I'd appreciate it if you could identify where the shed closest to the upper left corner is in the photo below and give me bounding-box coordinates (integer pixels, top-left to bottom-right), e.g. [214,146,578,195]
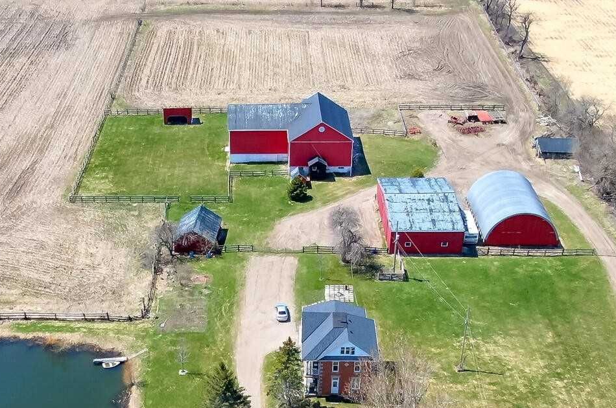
[163,108,193,124]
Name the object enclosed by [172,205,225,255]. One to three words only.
shed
